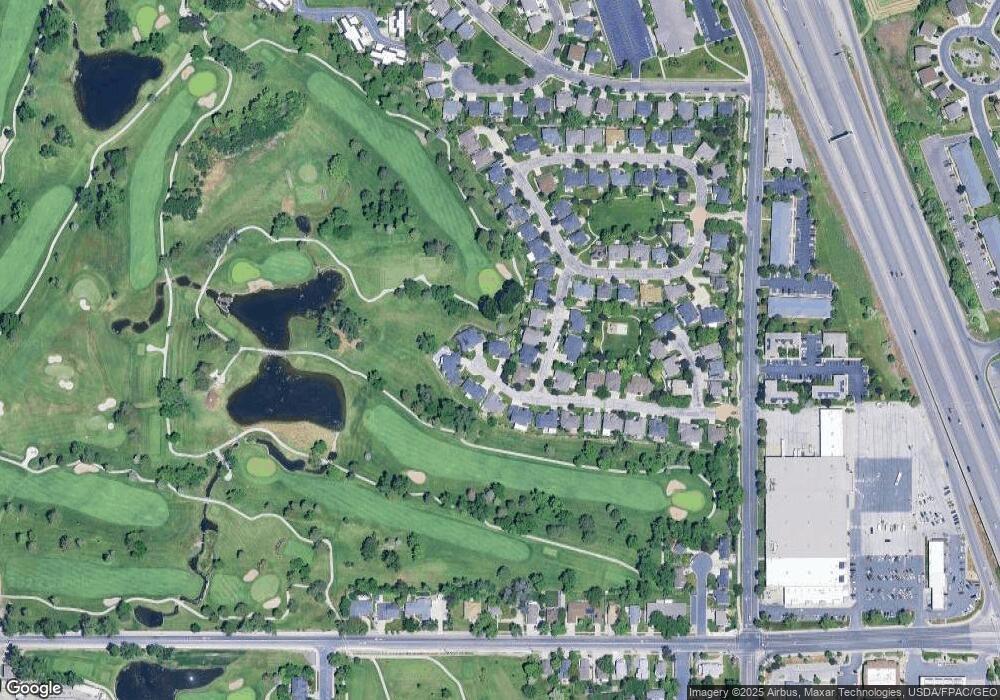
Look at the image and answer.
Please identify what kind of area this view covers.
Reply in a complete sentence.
What you see here is a golf course.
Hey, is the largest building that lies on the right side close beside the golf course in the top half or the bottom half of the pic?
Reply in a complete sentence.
You can find the largest building that lies on the right side close beside the golf course in the bottom half.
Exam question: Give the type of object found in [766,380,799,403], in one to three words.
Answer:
building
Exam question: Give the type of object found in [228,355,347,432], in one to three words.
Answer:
pond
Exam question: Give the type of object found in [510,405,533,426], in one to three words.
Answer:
house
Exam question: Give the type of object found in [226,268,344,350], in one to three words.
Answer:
pond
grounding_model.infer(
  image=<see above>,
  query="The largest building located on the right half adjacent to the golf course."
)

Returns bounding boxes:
[766,457,847,558]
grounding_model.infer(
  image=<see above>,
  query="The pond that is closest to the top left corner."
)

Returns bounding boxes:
[74,50,163,131]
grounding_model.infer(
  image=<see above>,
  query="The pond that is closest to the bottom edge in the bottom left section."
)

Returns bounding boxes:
[113,661,224,700]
